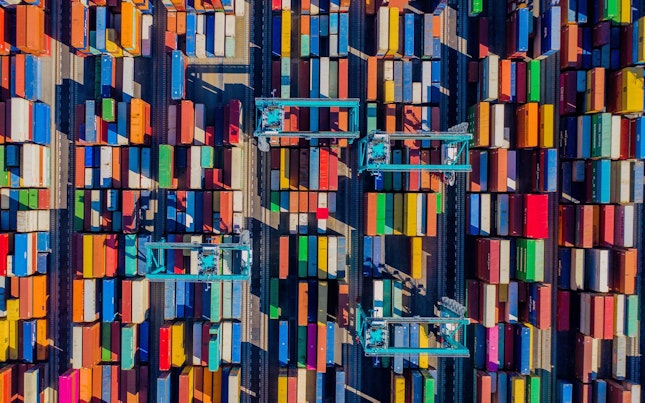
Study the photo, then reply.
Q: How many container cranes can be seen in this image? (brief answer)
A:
4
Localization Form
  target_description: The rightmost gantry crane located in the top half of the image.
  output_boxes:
[358,125,473,185]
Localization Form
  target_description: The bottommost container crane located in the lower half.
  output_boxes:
[355,297,470,365]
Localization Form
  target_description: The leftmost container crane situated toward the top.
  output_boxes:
[257,91,362,152]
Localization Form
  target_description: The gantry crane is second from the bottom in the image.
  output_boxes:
[145,229,255,288]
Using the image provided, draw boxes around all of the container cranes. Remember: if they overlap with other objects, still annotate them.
[358,125,473,185]
[355,297,470,365]
[145,229,255,288]
[257,91,362,152]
